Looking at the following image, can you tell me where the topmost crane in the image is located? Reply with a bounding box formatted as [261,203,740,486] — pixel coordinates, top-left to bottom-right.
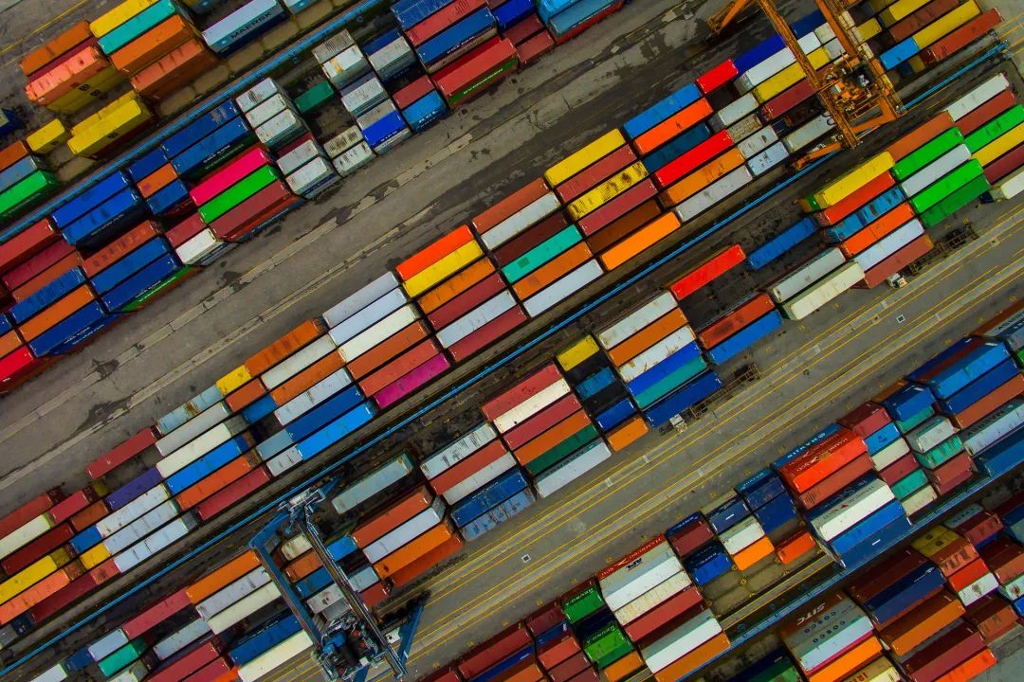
[686,0,920,190]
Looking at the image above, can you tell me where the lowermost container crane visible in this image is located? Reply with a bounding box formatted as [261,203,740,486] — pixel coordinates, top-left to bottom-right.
[239,466,443,682]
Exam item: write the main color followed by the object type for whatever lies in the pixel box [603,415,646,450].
orange shipping container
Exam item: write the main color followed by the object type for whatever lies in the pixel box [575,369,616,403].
blue shipping container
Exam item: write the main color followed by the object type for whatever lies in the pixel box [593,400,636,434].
blue shipping container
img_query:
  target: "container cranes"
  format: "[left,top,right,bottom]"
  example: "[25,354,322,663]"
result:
[239,466,443,682]
[686,0,920,190]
